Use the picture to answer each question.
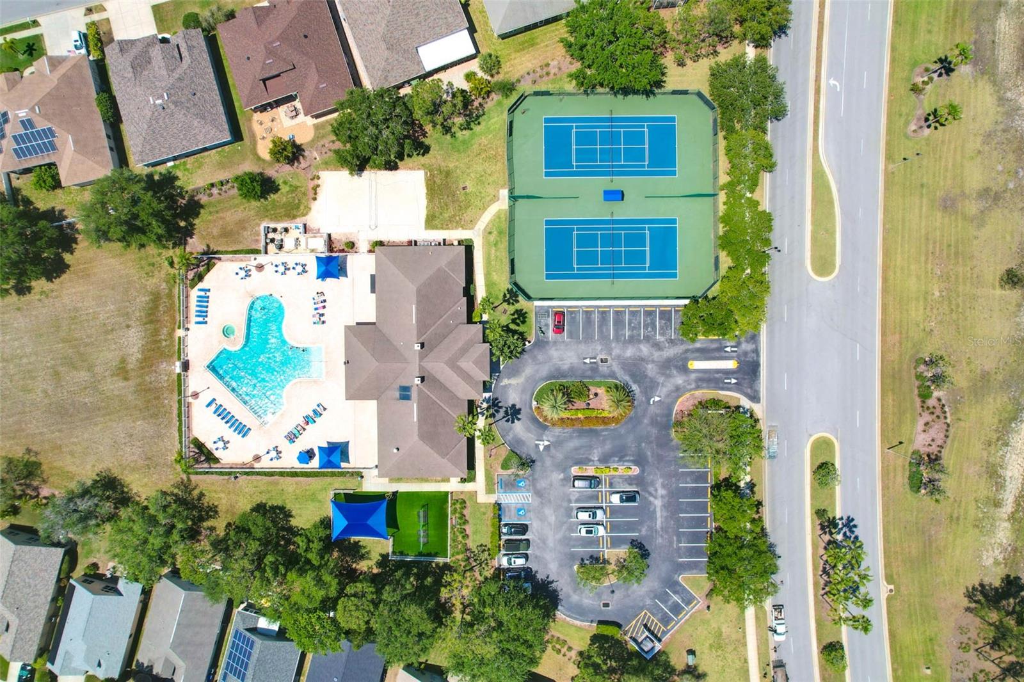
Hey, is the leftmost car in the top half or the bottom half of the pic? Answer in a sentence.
The top half of the photo is where the leftmost car is.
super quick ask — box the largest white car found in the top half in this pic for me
[68,29,89,58]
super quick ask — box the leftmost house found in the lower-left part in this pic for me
[0,526,73,682]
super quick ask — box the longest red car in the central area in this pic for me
[553,310,565,335]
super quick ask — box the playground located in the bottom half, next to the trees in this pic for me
[333,491,450,561]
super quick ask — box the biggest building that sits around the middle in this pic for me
[344,246,490,478]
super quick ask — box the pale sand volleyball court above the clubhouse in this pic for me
[307,170,426,237]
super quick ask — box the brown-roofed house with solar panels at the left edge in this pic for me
[0,56,120,182]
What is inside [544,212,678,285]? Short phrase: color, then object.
blue tennis court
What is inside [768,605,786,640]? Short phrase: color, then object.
white vehicle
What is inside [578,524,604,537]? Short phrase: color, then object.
white vehicle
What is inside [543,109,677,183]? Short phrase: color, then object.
blue tennis court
